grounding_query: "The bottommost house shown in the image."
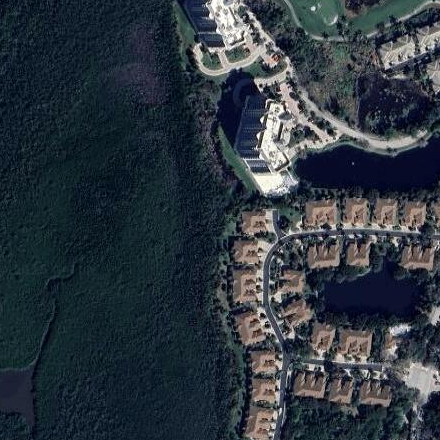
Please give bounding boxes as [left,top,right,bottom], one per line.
[242,406,274,440]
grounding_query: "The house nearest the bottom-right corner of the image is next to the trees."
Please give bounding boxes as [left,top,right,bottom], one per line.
[357,380,392,409]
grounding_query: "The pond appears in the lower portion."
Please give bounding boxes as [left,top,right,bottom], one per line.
[318,259,423,319]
